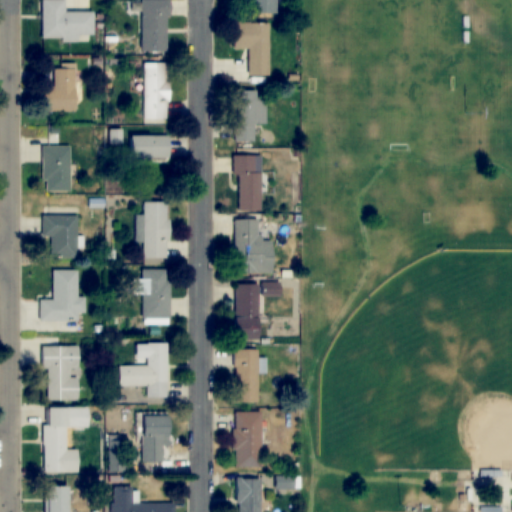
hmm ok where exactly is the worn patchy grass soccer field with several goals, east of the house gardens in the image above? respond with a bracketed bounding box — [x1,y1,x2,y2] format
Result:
[308,0,512,240]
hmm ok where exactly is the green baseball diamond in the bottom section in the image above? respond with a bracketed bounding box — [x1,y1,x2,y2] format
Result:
[319,250,512,470]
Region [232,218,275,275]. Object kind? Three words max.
house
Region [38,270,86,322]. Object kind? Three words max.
house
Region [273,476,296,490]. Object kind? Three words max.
shed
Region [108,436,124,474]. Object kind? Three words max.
shed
